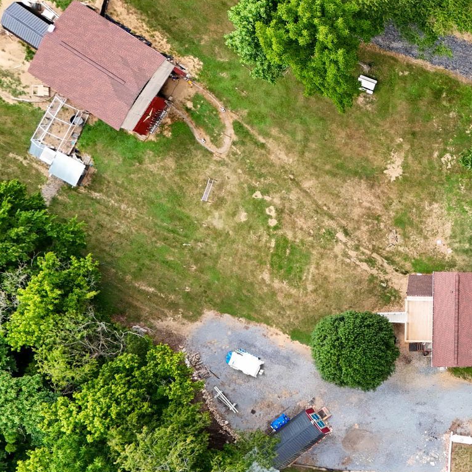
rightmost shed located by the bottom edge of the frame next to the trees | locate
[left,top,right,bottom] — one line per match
[268,405,333,470]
